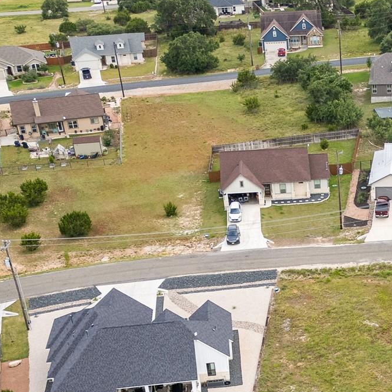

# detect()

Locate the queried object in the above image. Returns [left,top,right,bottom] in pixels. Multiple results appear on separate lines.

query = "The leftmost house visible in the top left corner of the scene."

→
[0,43,49,78]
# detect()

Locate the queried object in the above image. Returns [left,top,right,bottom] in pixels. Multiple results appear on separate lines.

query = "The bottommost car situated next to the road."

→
[224,225,242,246]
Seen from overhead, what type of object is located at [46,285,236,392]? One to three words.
house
